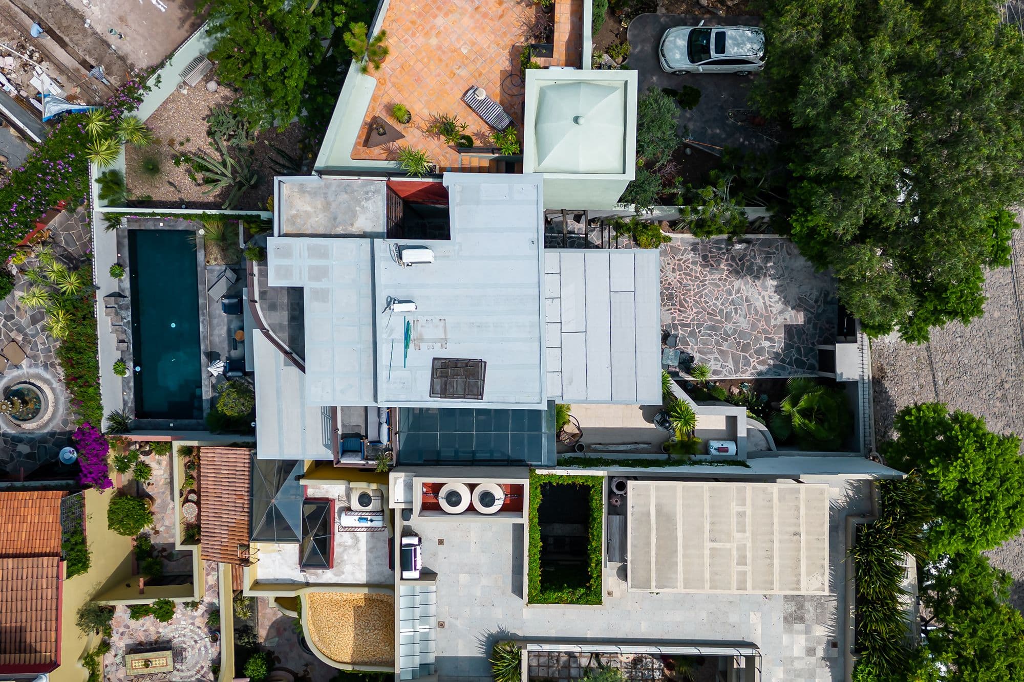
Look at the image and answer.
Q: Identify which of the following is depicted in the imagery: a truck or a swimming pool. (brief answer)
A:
swimming pool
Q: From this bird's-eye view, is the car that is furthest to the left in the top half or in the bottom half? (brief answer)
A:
top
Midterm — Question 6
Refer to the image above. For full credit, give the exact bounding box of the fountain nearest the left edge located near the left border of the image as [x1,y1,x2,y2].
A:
[0,359,66,447]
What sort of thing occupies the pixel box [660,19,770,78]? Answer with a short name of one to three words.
car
